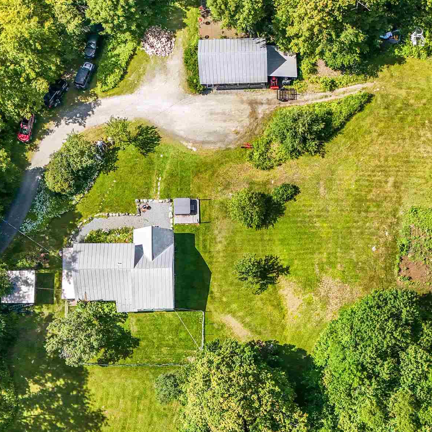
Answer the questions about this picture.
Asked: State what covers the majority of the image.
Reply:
grass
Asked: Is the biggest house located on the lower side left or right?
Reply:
left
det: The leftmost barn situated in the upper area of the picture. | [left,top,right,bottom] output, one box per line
[198,39,267,92]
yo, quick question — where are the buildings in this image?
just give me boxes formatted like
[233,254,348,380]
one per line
[62,225,176,312]
[1,271,40,303]
[198,39,267,92]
